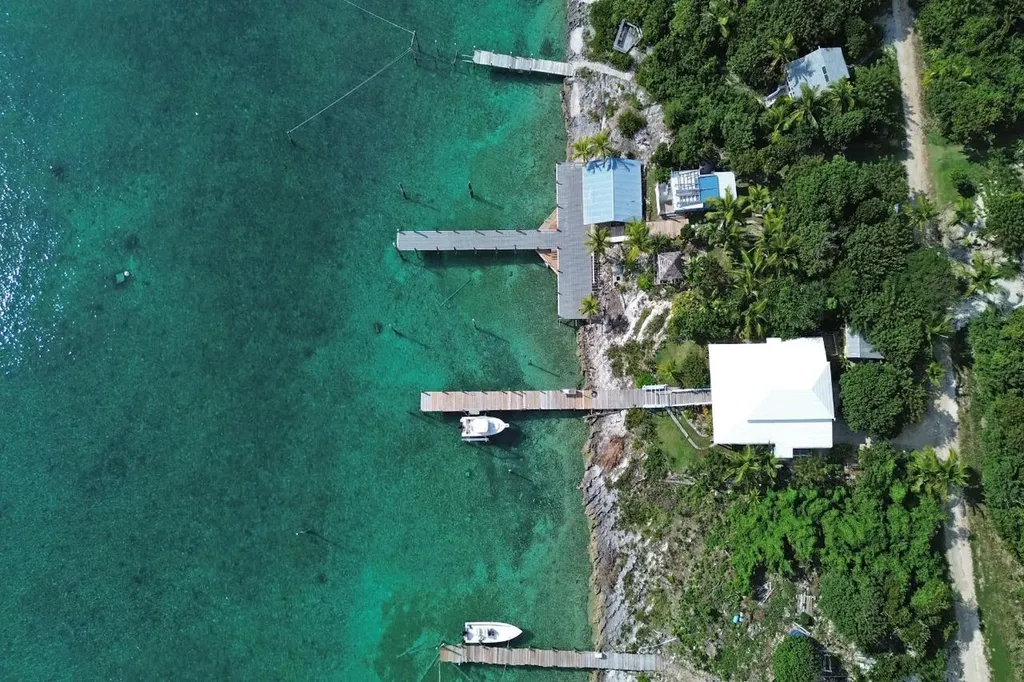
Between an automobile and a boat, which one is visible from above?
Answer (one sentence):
There is a boat in the scene.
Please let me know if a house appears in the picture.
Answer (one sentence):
Yes, the image includes a house.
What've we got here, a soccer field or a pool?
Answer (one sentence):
Visible in the photo is a pool.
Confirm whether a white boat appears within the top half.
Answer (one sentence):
No, the scene shows no white boat within the top half.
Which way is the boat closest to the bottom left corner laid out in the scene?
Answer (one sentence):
From this overhead view, the boat closest to the bottom left corner appears to run from side to side.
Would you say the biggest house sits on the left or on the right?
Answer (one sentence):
The biggest house is on the right side of the image.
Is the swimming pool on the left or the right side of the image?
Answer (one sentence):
The swimming pool appears in the right half of the scene.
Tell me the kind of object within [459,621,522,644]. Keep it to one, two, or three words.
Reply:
boat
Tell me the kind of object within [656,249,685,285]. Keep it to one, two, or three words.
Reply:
shed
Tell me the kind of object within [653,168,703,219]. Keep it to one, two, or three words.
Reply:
building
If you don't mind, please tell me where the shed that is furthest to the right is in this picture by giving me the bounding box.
[844,325,884,358]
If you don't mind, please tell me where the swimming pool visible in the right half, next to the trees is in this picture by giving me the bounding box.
[696,172,737,215]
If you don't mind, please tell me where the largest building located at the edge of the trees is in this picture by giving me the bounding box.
[708,336,837,460]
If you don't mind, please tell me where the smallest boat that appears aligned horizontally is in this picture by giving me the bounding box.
[457,416,509,436]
